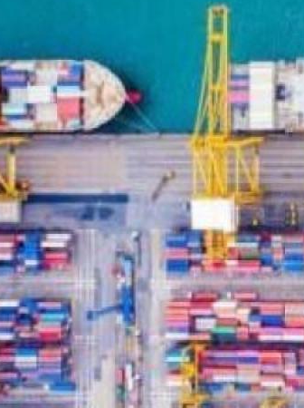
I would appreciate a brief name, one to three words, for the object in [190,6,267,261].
container crane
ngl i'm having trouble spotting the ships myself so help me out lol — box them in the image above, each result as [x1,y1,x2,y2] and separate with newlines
[0,61,140,129]
[229,62,304,129]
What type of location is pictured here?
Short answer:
port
